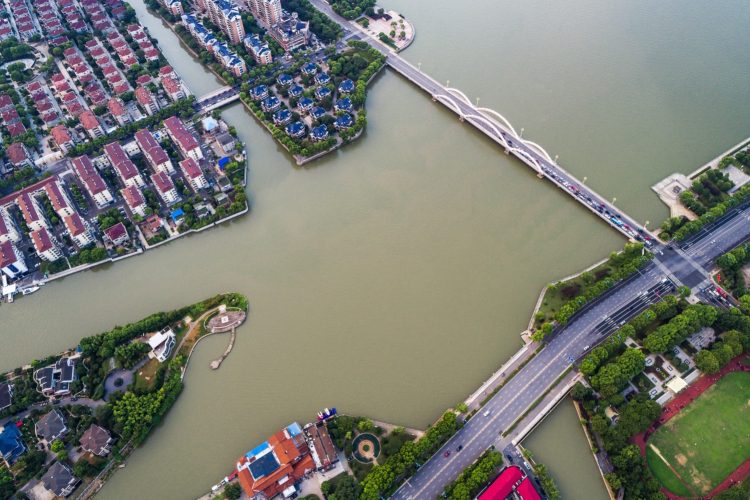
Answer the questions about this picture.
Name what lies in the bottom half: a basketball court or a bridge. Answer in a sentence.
Looking in the bottom half, you will find a bridge.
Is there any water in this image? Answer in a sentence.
Yes, the picture does contain water.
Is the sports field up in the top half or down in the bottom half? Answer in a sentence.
The sports field is in the bottom half of the image.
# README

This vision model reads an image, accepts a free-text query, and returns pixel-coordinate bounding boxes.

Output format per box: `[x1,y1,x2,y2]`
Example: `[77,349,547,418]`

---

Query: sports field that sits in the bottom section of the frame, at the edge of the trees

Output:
[635,351,750,500]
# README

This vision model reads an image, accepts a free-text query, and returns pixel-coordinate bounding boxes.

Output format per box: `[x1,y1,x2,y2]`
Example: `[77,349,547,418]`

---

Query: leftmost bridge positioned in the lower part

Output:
[464,343,585,449]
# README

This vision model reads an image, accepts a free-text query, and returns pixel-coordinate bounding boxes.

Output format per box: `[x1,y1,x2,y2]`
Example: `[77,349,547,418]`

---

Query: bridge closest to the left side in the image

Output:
[196,85,241,113]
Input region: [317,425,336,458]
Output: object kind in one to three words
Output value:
house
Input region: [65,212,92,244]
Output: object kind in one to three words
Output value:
building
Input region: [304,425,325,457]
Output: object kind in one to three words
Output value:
house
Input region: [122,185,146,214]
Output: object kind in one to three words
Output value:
building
